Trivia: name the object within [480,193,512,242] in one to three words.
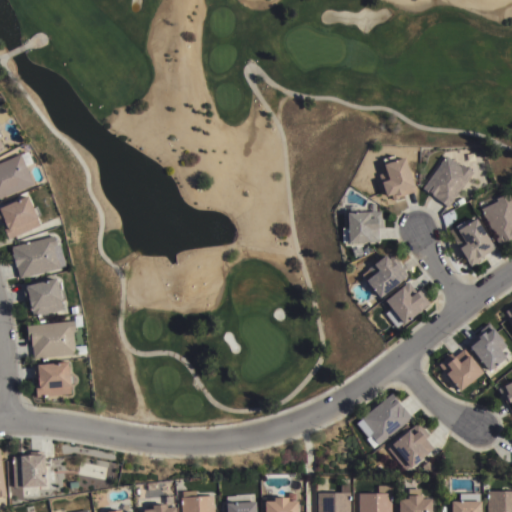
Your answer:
house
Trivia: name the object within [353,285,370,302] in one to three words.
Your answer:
swimming pool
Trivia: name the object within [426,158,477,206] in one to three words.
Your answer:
house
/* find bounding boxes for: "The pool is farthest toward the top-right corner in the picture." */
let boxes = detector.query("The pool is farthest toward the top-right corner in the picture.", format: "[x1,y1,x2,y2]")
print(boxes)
[348,192,366,206]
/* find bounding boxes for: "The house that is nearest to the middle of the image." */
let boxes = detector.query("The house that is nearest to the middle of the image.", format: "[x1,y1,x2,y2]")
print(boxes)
[348,212,382,246]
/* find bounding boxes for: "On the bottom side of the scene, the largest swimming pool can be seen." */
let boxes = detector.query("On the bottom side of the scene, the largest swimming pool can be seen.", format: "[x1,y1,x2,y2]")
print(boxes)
[452,479,480,492]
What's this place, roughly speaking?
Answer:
golf course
